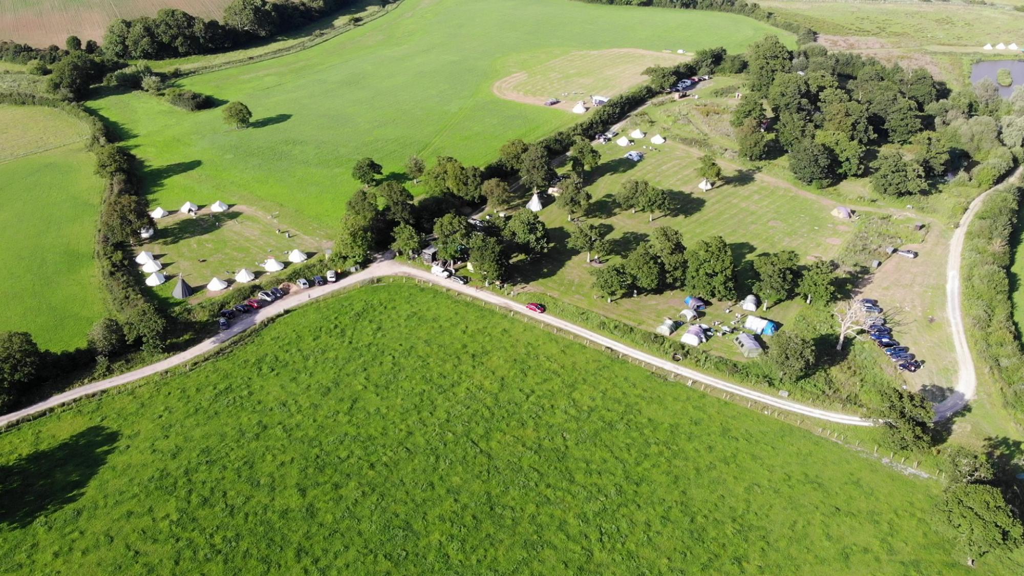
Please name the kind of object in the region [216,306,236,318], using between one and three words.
vehicle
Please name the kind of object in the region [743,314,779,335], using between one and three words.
tent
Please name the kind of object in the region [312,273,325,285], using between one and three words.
vehicle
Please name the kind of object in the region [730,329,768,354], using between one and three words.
tent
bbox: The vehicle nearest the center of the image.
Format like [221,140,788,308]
[526,299,544,311]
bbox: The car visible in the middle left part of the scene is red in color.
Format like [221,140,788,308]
[246,295,262,307]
